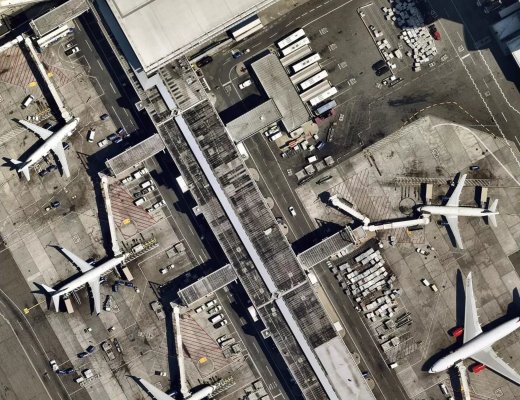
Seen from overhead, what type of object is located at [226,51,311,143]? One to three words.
building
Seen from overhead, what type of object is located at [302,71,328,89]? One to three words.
vehicle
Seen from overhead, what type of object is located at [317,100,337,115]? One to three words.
vehicle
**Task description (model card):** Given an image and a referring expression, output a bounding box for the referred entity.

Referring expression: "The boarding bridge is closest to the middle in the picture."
[329,195,370,226]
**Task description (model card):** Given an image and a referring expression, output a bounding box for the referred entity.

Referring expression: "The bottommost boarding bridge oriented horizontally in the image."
[360,213,431,232]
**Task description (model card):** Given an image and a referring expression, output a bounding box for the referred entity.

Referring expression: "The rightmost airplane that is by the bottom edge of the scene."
[430,271,520,380]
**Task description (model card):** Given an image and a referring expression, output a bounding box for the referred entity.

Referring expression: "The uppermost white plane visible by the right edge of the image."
[419,173,500,249]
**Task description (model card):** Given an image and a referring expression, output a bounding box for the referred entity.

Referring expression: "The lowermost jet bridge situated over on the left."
[173,305,191,398]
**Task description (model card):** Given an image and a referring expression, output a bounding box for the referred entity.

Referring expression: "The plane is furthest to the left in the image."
[11,118,79,180]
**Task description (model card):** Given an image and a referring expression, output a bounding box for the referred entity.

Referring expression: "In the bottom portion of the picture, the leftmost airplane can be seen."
[48,249,131,316]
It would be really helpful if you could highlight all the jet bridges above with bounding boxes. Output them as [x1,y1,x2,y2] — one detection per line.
[329,195,370,226]
[457,359,472,400]
[0,34,24,52]
[360,213,431,232]
[23,36,75,119]
[173,305,191,398]
[99,175,121,258]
